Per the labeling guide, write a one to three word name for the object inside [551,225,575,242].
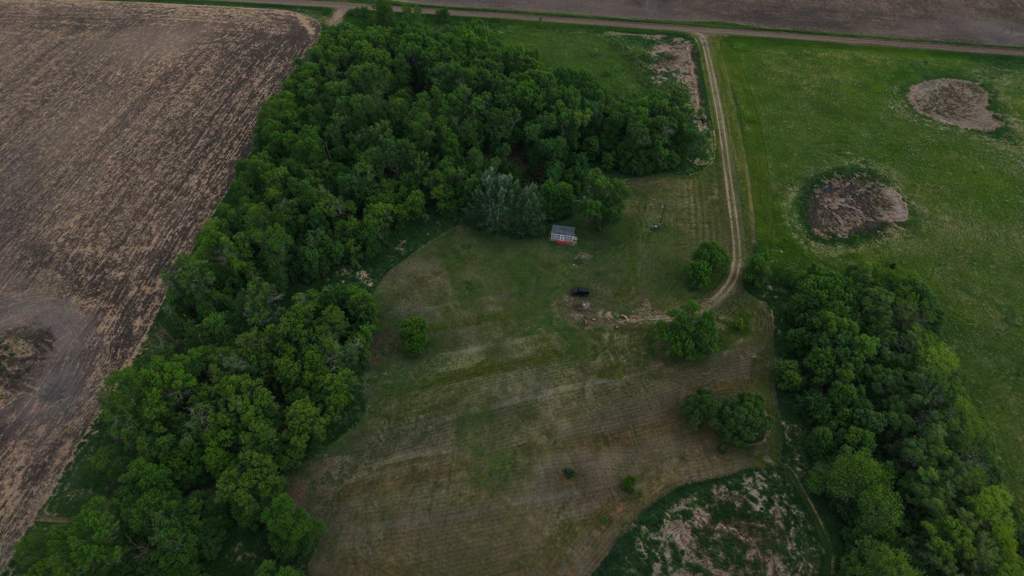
shed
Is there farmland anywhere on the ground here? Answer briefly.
Yes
